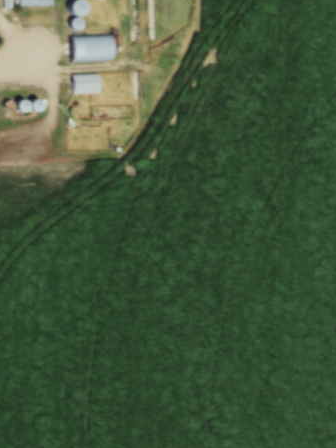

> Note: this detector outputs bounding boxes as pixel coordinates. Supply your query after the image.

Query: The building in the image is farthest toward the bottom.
[74,73,102,95]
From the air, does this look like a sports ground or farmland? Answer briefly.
farmland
